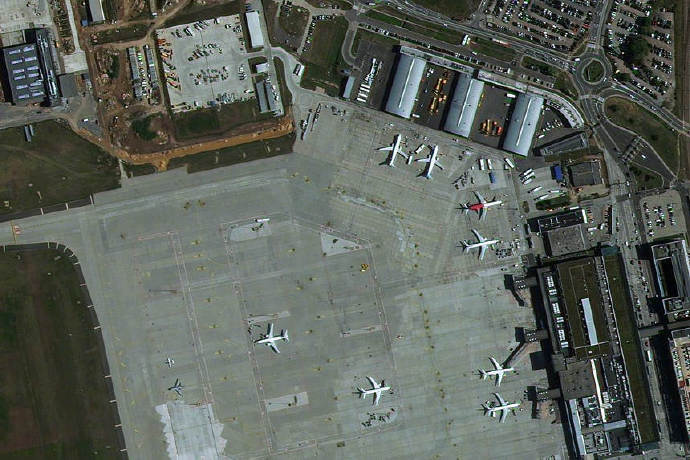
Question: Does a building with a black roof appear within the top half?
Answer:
Yes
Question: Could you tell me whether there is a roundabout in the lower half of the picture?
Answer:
No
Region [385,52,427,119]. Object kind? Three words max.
hangar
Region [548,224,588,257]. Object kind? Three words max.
building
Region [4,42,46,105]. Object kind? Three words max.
building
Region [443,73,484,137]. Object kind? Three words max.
hangar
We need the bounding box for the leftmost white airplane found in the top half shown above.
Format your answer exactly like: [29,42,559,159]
[379,134,410,167]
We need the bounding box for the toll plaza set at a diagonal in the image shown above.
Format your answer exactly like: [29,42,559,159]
[619,134,645,162]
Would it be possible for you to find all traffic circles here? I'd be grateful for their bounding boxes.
[573,50,615,92]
